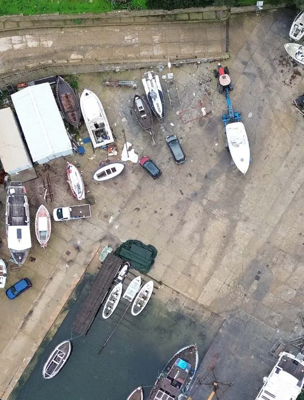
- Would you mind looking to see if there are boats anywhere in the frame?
Yes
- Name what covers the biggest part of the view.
paved ground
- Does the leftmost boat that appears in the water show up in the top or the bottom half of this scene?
bottom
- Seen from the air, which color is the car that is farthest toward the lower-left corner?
blue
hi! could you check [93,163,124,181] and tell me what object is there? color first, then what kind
white boat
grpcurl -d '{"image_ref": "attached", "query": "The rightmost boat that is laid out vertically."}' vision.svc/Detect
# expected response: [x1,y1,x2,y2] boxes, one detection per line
[290,13,304,43]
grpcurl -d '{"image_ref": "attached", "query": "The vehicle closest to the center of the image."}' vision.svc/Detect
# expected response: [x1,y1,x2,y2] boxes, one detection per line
[137,155,164,181]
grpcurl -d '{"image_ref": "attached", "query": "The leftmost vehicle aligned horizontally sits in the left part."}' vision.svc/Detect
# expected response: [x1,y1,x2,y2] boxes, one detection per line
[54,203,92,223]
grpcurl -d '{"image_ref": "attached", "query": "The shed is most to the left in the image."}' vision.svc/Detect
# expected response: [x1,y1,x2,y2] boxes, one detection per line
[0,107,36,177]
